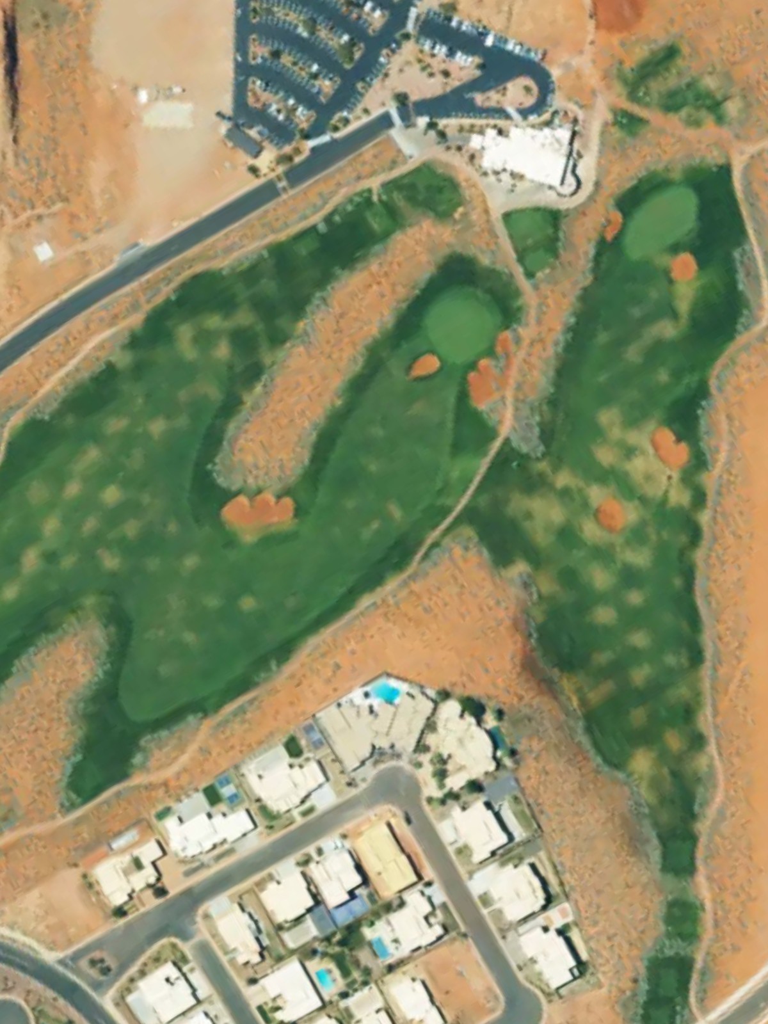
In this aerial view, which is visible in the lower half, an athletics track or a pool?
pool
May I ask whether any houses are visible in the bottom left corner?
Yes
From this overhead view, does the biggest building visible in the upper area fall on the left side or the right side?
right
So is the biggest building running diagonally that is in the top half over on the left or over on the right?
left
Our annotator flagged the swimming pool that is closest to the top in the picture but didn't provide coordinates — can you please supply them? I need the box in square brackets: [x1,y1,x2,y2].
[372,681,401,703]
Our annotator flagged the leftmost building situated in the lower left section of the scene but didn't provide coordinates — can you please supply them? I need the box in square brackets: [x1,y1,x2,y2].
[95,840,165,902]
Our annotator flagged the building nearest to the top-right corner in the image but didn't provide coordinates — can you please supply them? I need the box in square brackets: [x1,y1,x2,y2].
[470,126,571,185]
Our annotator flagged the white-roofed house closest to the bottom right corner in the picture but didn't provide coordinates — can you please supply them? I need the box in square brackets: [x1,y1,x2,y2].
[518,927,576,988]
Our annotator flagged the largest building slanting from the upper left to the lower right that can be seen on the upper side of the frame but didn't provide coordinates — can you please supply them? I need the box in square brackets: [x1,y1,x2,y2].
[226,124,261,157]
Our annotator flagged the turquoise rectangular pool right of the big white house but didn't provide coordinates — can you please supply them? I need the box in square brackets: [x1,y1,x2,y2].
[314,967,336,992]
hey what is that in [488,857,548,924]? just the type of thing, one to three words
house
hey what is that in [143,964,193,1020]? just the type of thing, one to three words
house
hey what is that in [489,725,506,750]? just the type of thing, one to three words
swimming pool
